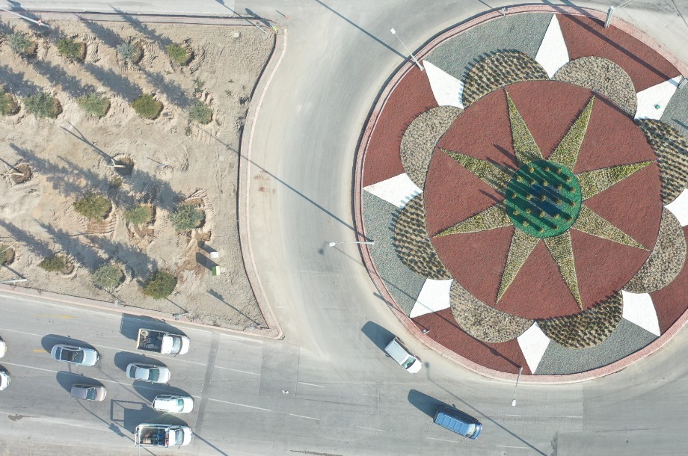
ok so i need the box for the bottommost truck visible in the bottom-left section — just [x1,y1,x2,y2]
[135,423,193,448]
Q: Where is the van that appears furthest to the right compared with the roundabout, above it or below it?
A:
below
